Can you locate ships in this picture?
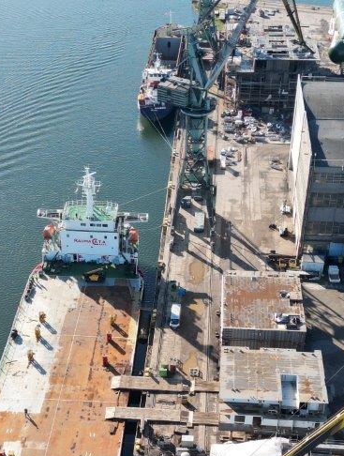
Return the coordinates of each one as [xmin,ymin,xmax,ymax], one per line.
[140,0,181,128]
[0,163,149,456]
